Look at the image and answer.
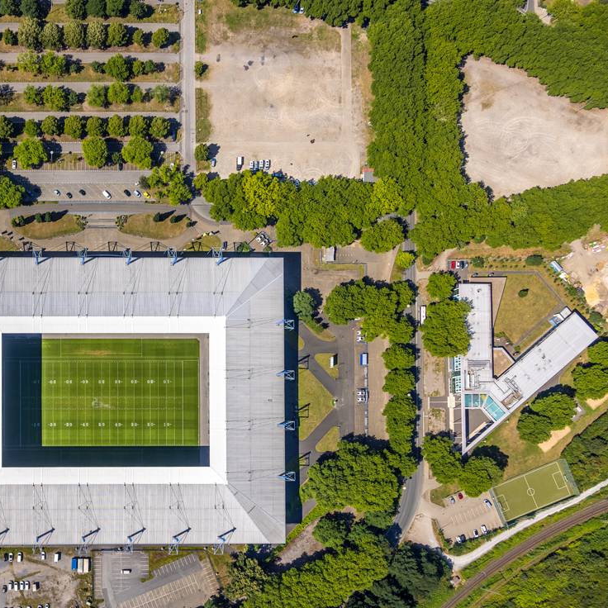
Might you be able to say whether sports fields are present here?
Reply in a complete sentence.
Yes, the photo shows a sports field.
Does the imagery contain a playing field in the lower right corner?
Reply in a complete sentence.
Yes, a playing field shows up in the lower right corner.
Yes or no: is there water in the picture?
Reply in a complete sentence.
No, there is no water in the image.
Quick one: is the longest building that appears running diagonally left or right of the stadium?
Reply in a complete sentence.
Looking at the photo, the longest building that appears running diagonally lies to the right of the stadium.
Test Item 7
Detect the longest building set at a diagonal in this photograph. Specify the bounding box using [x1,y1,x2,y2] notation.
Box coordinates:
[485,310,598,414]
